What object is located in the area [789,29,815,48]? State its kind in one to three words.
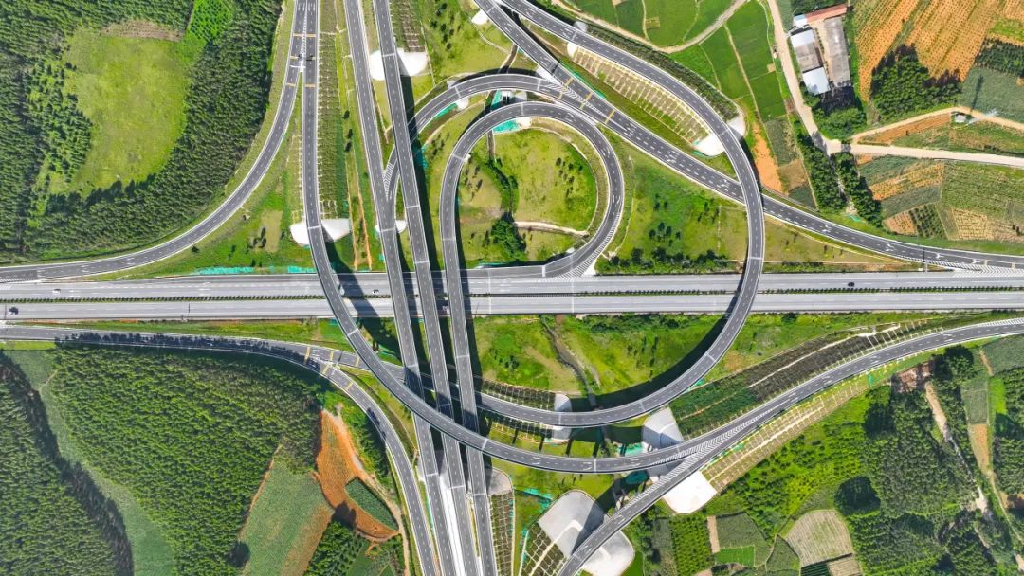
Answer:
shed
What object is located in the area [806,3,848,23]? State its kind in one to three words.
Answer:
shed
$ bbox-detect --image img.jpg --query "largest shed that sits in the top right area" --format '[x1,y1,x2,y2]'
[823,17,850,86]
